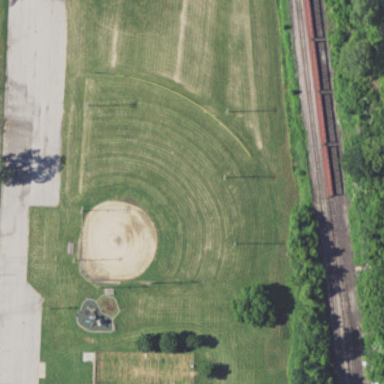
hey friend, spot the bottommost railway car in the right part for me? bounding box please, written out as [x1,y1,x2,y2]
[322,144,334,196]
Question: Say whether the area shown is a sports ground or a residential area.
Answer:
sports ground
